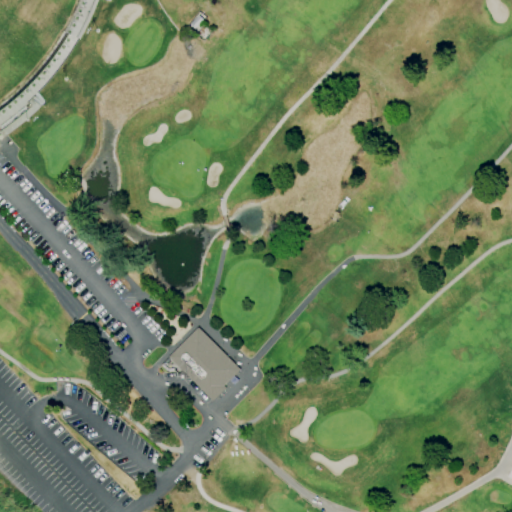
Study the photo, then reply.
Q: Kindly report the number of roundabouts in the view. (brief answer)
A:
none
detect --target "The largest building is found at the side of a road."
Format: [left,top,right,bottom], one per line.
[170,328,240,400]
